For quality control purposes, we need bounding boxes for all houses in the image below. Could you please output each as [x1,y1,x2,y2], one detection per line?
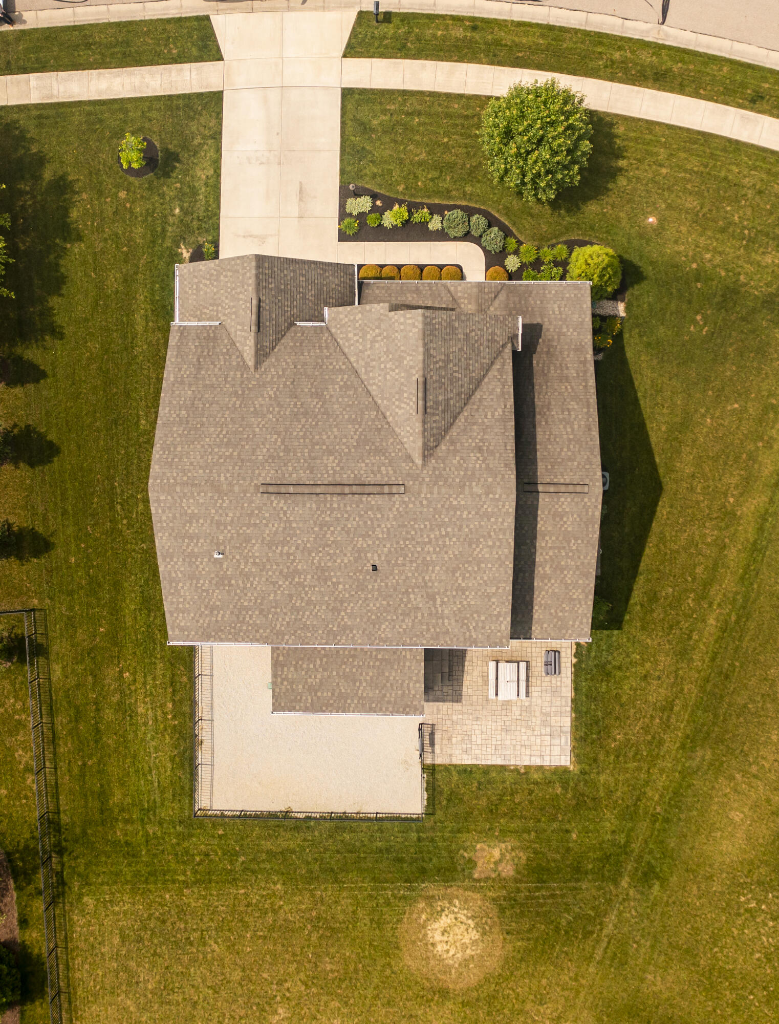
[150,254,602,716]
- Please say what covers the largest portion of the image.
grass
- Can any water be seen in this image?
No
